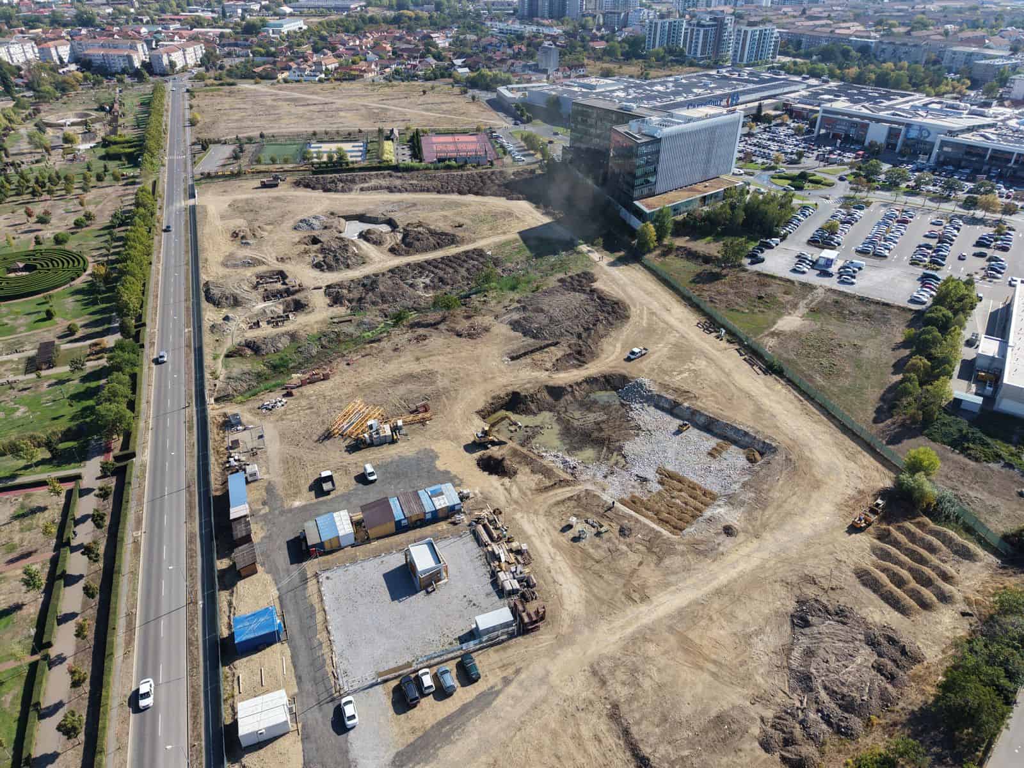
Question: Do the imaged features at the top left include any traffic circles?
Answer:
No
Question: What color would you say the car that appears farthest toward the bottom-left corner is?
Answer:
white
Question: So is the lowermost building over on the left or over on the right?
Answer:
left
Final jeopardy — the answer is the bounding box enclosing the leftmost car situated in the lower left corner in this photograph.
[134,676,154,709]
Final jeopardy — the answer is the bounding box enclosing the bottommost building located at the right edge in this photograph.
[950,277,1024,434]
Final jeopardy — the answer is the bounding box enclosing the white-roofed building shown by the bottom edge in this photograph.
[237,688,294,746]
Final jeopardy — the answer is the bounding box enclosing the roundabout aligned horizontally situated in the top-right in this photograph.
[760,166,844,199]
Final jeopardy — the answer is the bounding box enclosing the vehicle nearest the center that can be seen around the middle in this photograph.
[476,409,525,452]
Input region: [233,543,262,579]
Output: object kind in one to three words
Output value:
shed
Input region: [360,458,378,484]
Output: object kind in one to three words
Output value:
car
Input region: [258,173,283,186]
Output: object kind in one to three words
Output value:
vehicle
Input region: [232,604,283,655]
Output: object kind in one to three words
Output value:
building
